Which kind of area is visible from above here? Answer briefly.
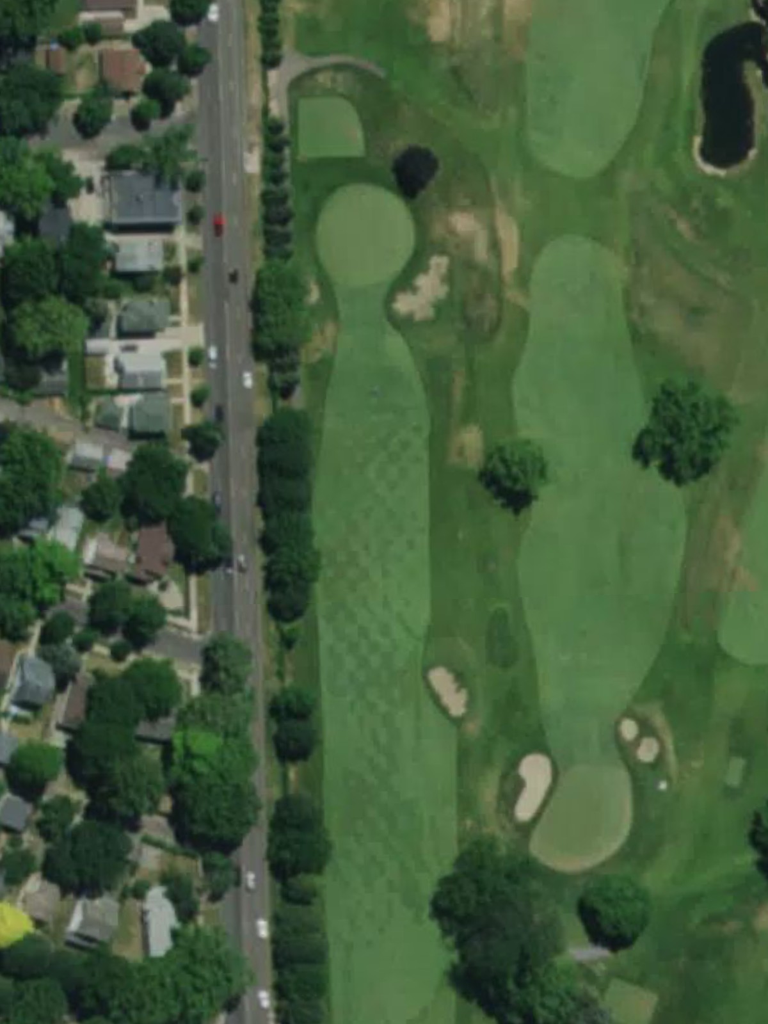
golf course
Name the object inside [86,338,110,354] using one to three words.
building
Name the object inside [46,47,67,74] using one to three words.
shed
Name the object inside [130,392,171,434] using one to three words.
house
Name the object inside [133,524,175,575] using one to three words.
house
